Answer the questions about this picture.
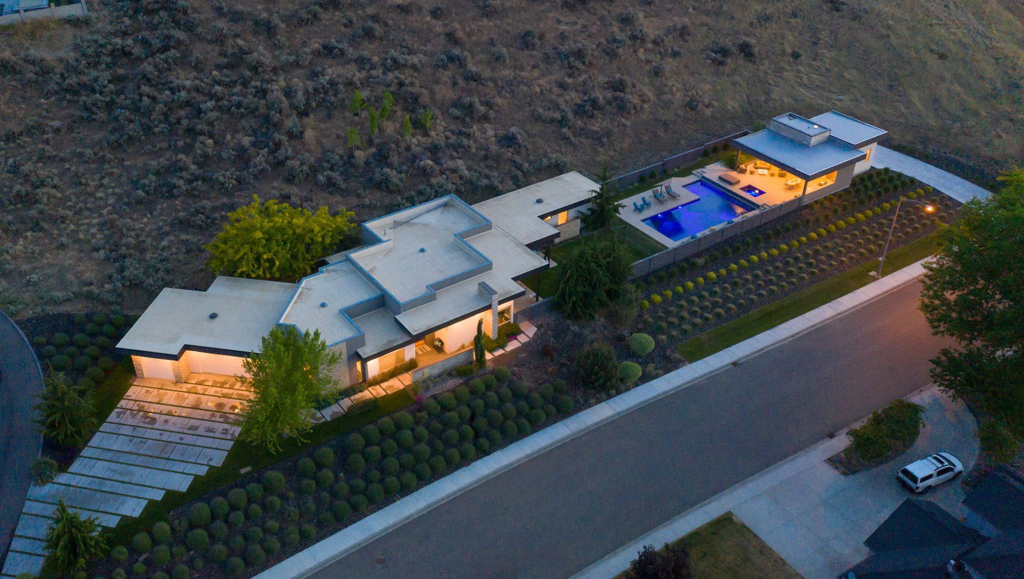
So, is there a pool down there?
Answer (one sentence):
Yes, looking at the shot, I can spot a pool.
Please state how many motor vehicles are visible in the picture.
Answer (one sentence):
Only 1 motor vehicle is visible.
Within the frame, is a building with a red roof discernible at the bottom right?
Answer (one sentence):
No, I see no building with a red roof at the bottom right.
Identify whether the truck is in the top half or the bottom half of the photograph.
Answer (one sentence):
It is in the bottom half that the truck appears.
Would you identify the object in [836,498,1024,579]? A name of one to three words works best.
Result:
house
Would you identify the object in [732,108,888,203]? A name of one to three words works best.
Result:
building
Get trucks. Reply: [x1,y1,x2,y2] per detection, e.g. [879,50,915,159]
[897,453,964,493]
